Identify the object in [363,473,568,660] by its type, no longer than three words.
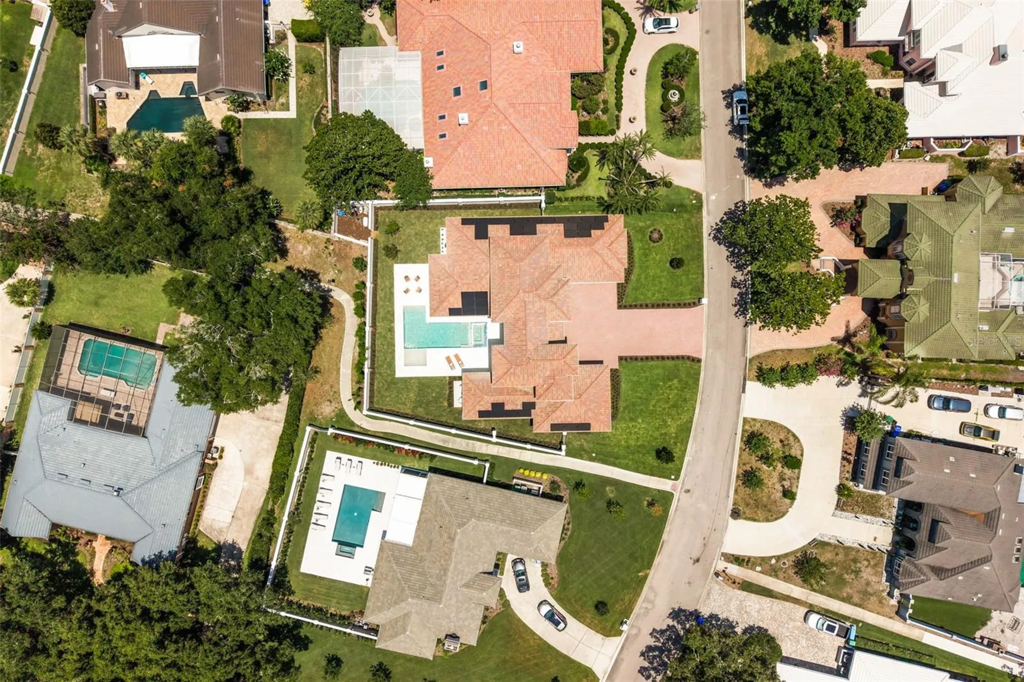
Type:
house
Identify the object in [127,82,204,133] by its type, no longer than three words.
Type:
swimming pool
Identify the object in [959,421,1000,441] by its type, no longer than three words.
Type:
car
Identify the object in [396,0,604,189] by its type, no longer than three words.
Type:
house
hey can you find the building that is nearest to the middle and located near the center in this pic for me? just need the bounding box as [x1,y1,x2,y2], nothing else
[428,214,628,433]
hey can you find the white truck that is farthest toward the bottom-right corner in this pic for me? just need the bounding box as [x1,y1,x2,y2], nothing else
[805,610,851,639]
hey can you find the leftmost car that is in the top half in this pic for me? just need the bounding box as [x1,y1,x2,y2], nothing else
[643,14,679,34]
